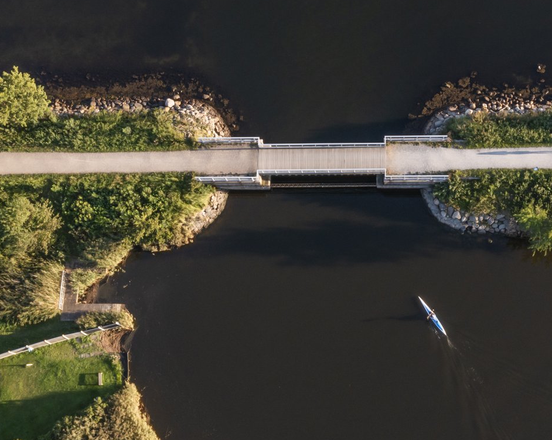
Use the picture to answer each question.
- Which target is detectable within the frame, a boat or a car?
boat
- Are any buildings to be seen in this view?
No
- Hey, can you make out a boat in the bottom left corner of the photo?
No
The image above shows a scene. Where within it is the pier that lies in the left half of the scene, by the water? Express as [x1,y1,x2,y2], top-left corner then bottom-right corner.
[59,267,126,320]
